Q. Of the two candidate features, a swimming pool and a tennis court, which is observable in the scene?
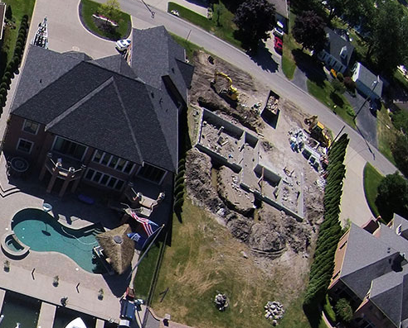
swimming pool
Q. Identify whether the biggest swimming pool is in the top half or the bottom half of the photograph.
bottom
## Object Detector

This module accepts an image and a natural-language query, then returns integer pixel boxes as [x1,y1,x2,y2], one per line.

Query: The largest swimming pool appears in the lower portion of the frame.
[9,206,107,275]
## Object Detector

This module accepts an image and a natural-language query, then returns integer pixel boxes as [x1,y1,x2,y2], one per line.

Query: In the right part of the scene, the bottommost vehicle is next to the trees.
[308,115,343,146]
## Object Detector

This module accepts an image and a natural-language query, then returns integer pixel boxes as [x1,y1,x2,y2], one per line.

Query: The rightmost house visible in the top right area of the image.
[352,61,383,102]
